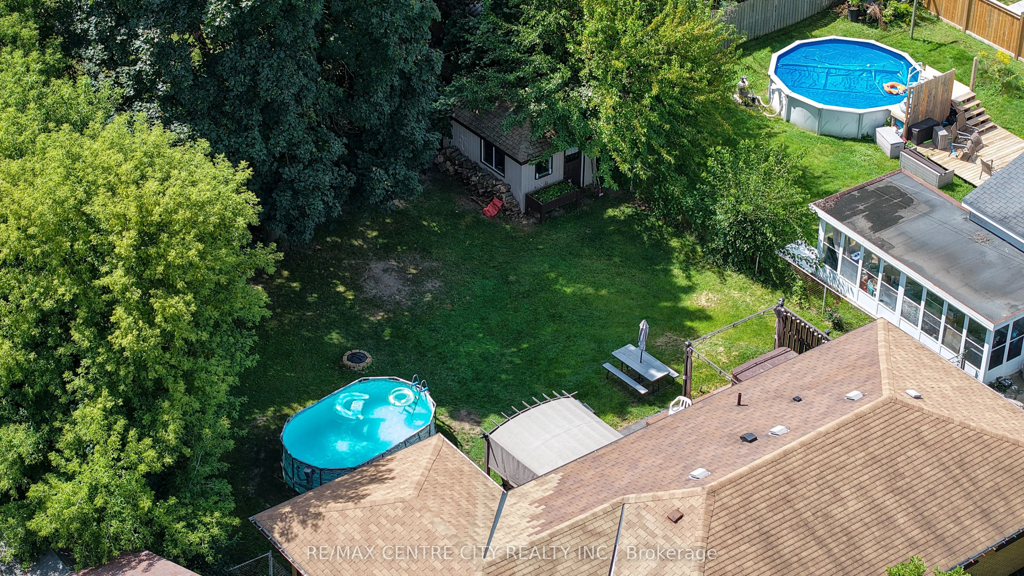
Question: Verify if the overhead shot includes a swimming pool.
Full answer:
Yes, a swimming pool can be made out from above.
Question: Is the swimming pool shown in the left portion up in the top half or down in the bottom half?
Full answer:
The swimming pool shown in the left portion sits in the bottom half of the picture.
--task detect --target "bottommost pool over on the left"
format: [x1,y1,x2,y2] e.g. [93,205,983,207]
[279,375,440,491]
